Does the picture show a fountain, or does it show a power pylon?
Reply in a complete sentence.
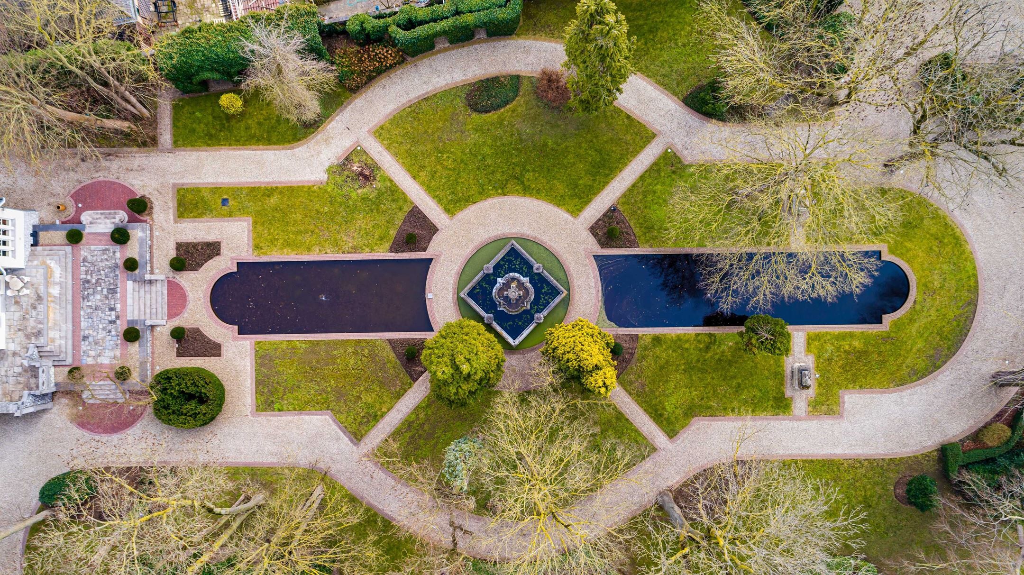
There is a fountain in the scene.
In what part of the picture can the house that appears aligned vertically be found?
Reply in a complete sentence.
The house that appears aligned vertically appears toward the left of the photo.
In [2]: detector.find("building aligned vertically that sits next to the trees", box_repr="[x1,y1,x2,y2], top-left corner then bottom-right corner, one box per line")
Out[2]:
[0,196,37,276]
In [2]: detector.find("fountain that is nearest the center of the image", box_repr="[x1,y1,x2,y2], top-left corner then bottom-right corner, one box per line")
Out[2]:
[460,240,567,347]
